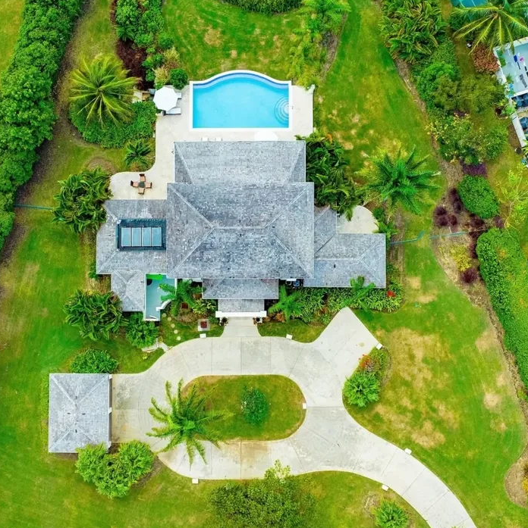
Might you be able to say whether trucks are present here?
No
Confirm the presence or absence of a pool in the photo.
Yes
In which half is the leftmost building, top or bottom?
bottom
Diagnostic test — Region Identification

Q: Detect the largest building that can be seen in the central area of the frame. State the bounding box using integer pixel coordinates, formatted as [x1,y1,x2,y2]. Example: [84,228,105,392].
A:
[95,140,387,319]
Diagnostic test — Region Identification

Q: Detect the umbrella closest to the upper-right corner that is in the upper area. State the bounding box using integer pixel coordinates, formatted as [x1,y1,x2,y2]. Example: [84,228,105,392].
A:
[255,125,276,140]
